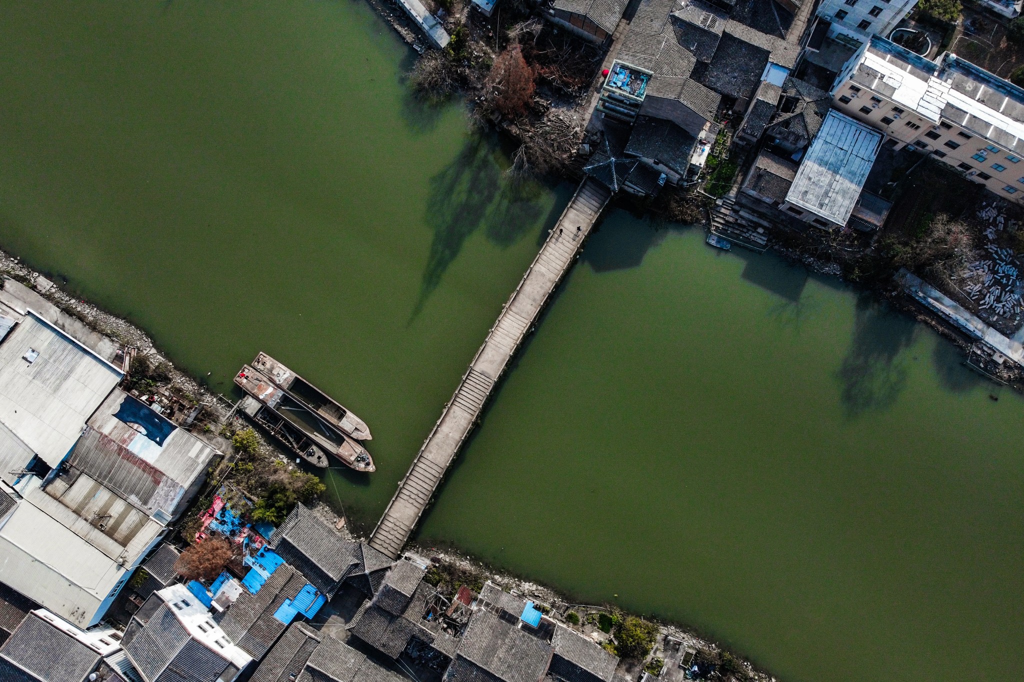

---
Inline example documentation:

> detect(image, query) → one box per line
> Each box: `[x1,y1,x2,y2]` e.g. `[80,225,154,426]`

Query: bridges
[365,172,616,561]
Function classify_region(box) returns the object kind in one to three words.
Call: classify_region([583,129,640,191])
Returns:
building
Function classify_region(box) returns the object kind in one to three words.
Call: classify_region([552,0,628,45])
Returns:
building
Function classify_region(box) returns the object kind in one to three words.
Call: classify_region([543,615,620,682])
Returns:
house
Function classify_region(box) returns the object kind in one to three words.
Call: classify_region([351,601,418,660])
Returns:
house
